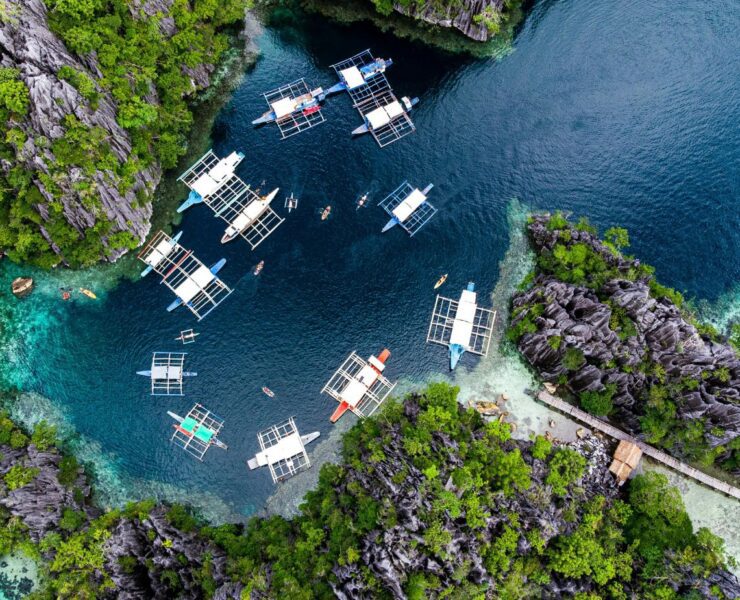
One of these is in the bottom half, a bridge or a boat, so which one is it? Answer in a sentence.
Visible in the bottom half is a boat.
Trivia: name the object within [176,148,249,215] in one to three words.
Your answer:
boat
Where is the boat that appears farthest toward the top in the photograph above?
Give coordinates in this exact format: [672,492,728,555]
[324,48,394,106]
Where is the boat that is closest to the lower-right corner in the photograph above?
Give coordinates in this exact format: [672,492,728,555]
[426,281,497,372]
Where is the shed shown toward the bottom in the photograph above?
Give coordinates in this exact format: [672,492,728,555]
[603,438,641,479]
